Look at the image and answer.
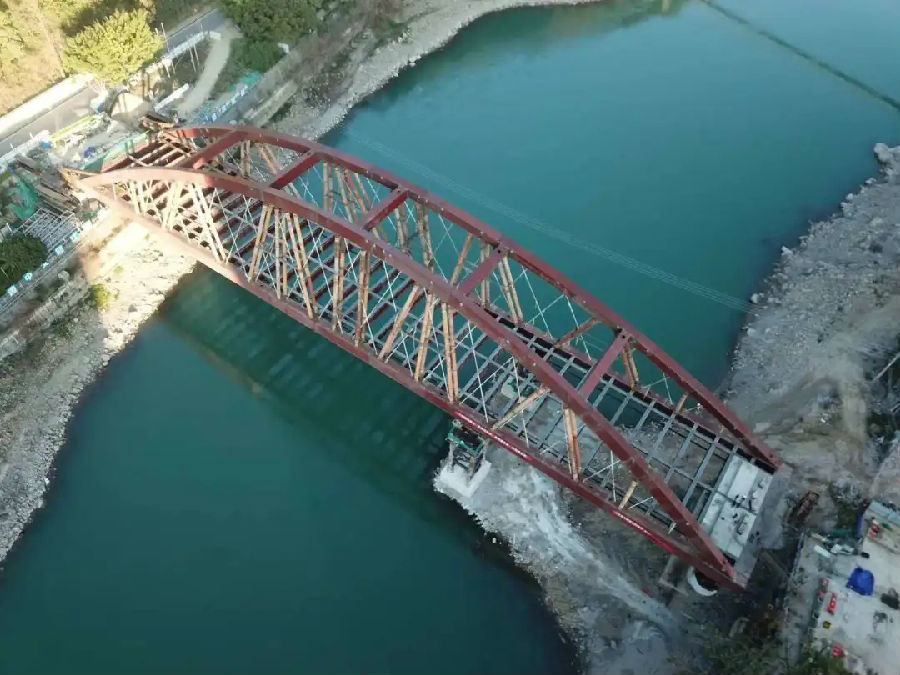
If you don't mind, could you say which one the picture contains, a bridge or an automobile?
bridge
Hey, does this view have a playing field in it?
No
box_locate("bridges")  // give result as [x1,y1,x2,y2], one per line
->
[74,120,788,592]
